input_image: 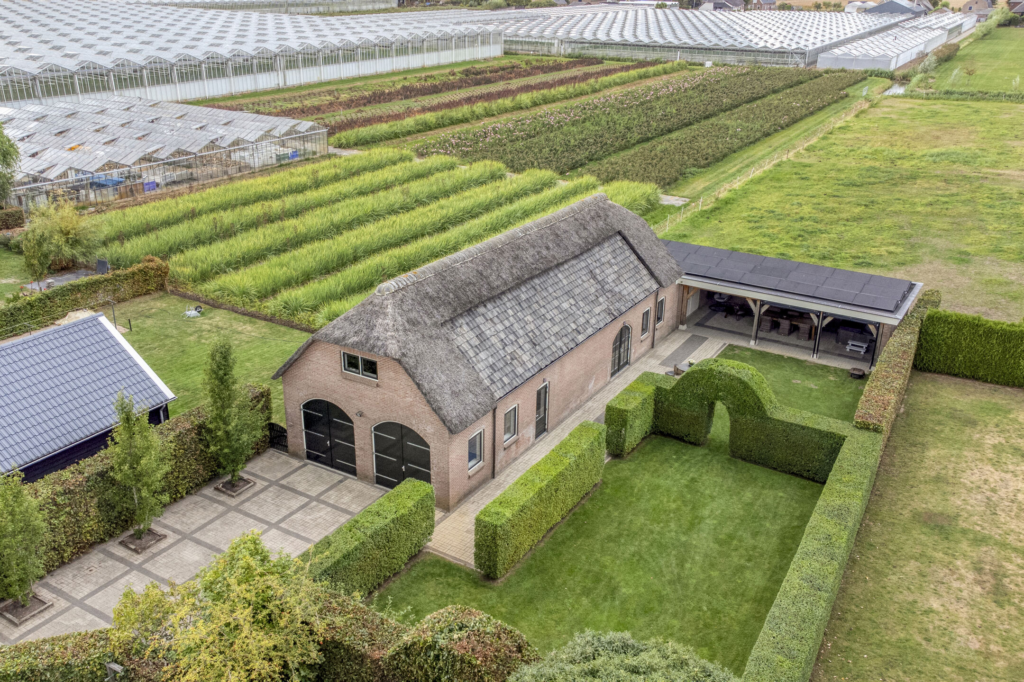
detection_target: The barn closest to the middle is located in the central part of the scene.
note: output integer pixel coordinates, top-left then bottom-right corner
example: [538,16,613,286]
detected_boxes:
[267,189,712,513]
